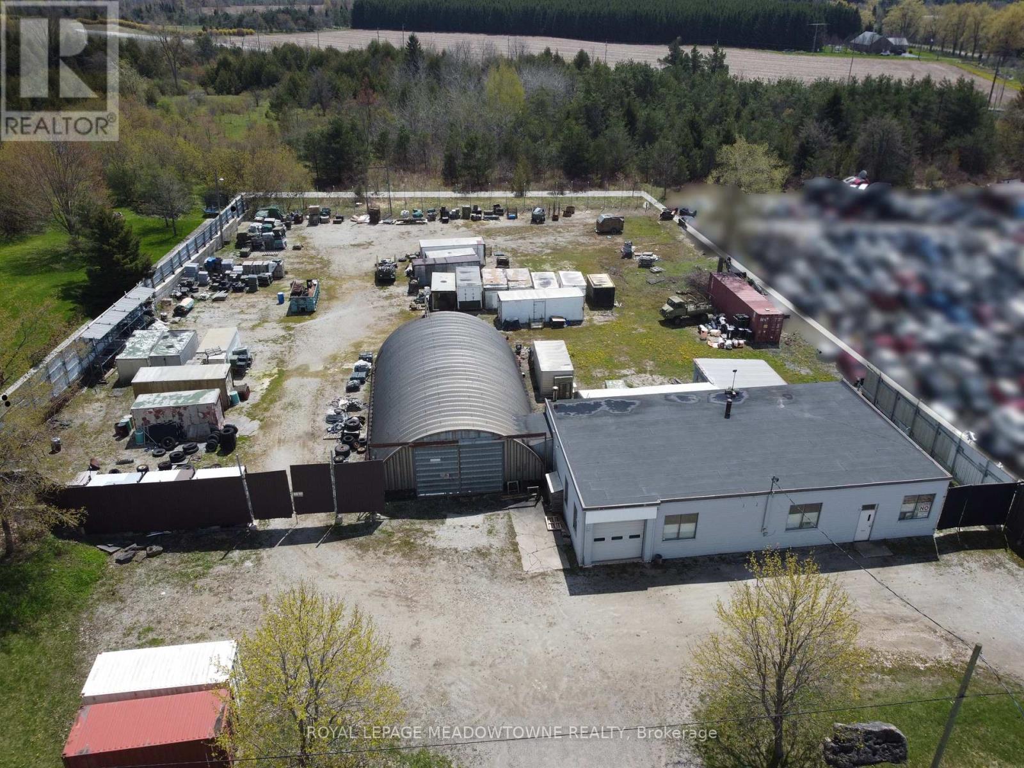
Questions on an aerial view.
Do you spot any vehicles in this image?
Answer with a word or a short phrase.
Yes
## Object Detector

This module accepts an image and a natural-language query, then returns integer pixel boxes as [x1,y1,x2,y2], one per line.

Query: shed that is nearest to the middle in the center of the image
[362,309,549,500]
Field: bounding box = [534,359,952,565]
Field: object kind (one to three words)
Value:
building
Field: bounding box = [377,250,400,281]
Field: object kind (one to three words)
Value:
truck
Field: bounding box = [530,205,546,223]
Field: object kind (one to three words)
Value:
vehicle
